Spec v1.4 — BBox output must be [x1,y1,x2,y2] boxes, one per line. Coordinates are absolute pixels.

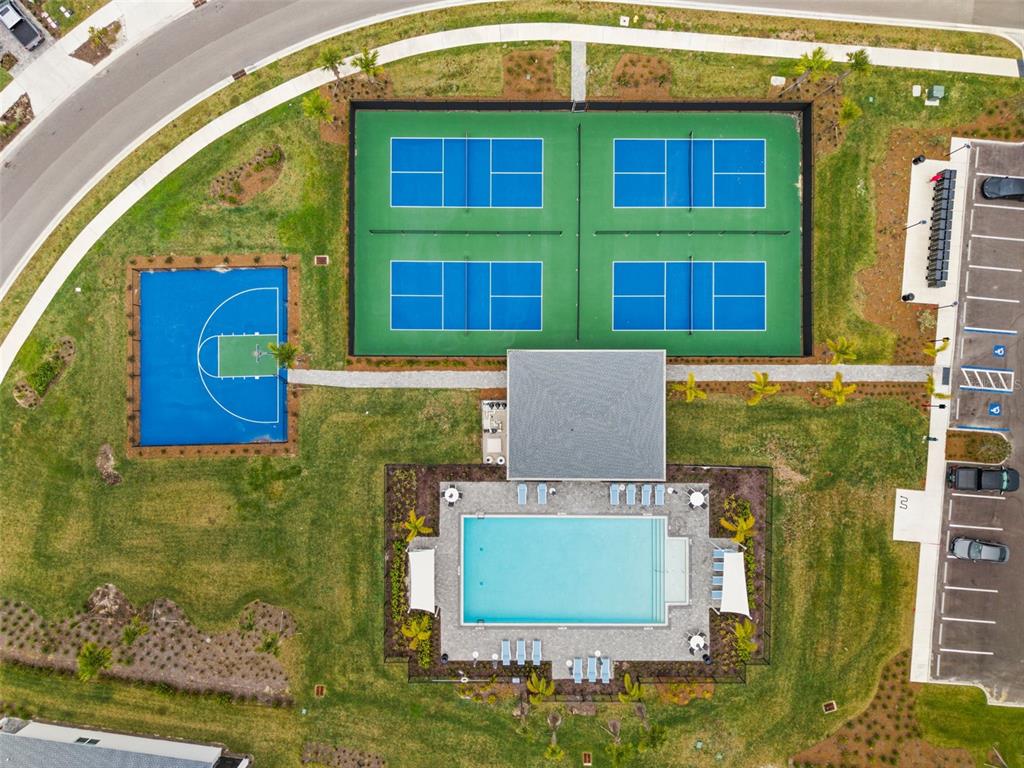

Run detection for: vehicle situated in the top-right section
[980,174,1024,202]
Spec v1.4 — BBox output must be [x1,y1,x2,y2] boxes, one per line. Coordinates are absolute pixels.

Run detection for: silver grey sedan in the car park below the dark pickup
[949,536,1010,563]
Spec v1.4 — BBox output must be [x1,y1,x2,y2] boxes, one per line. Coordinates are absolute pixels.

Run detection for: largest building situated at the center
[507,349,667,481]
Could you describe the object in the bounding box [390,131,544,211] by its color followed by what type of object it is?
blue sports court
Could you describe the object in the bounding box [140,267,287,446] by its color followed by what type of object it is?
blue basketball court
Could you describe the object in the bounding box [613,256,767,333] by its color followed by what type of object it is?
blue sports court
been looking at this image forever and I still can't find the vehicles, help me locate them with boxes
[0,0,48,53]
[949,536,1010,563]
[980,174,1024,202]
[946,466,1020,494]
